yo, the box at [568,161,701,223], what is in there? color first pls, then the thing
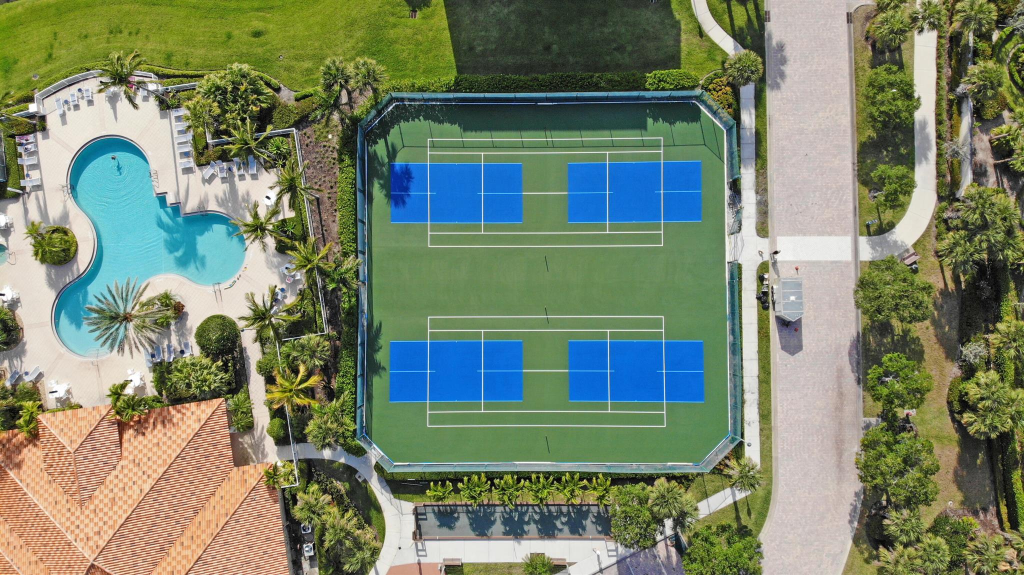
blue sports court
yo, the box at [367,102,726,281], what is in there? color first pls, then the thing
green tennis court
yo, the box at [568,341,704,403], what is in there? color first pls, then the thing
blue sports court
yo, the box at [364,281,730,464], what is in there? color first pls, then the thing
green tennis court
